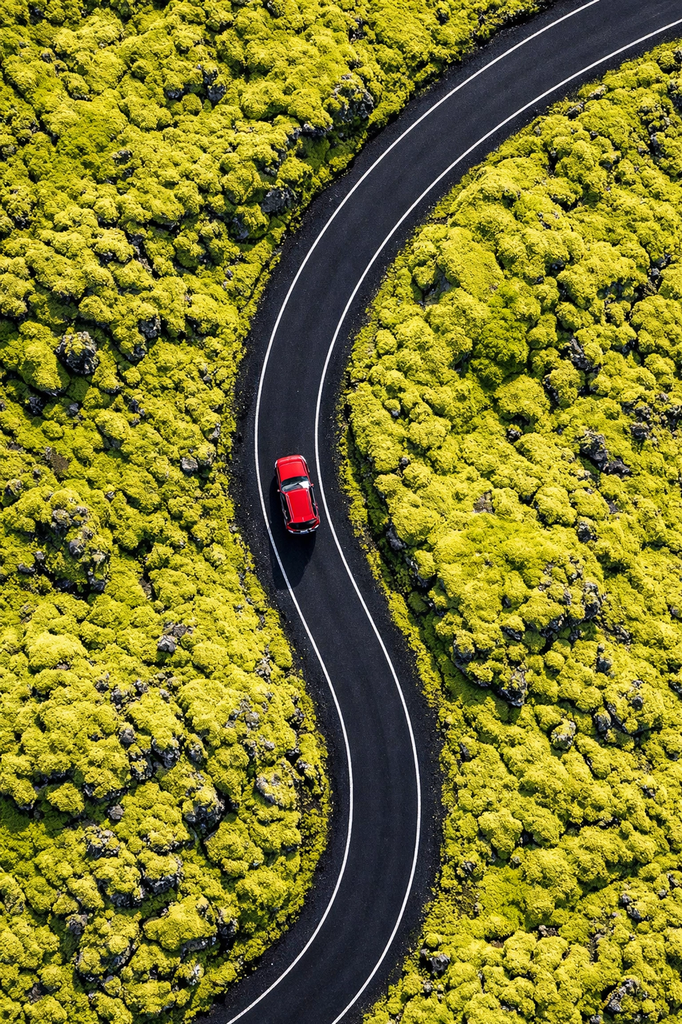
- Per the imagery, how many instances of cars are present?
1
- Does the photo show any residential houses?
No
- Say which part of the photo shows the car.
center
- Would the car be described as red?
Yes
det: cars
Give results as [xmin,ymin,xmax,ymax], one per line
[275,456,319,536]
